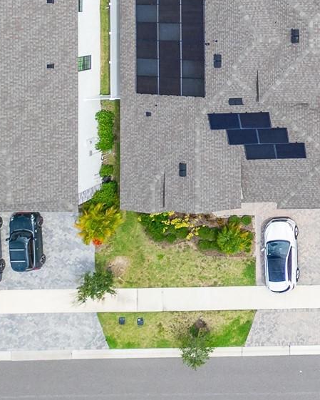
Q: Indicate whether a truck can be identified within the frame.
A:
No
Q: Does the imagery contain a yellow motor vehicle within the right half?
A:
No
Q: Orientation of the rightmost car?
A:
vertically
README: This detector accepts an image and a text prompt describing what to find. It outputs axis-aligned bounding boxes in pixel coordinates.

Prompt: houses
[0,0,101,212]
[120,0,320,213]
